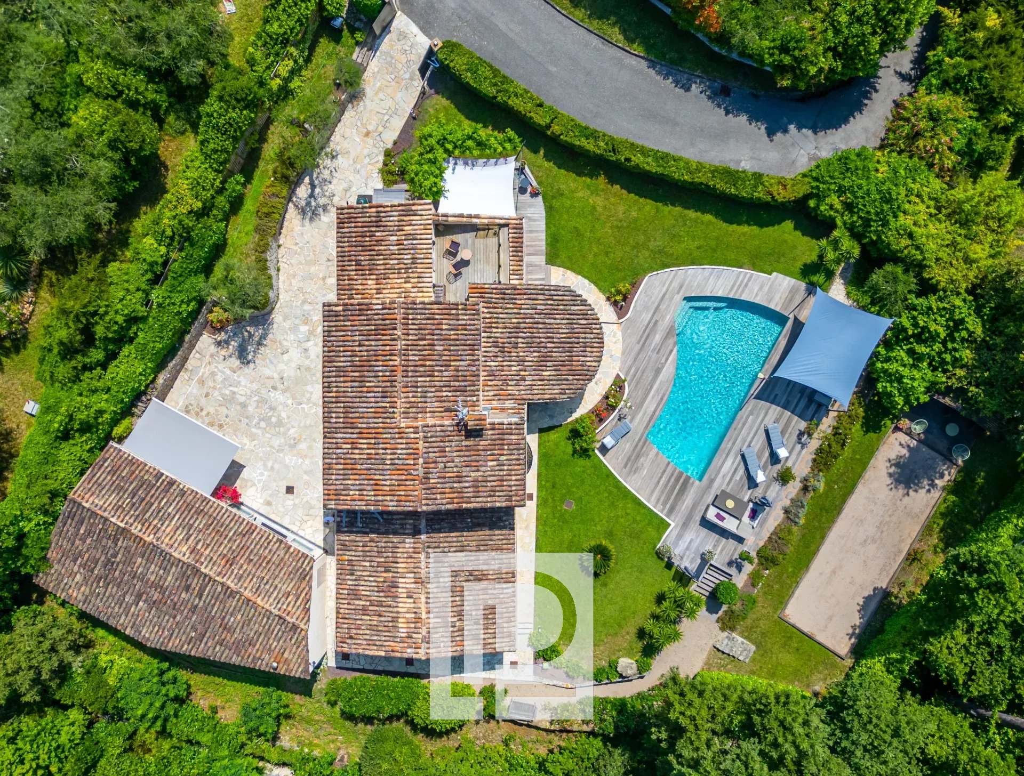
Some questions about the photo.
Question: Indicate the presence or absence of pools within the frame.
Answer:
Yes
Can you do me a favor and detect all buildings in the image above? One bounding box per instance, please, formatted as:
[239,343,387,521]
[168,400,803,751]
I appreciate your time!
[35,442,334,680]
[321,200,605,662]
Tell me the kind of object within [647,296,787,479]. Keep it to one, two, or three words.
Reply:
swimming pool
